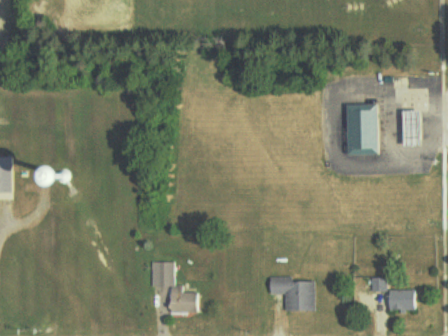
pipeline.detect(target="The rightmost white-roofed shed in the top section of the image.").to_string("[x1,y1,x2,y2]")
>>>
[402,112,422,147]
